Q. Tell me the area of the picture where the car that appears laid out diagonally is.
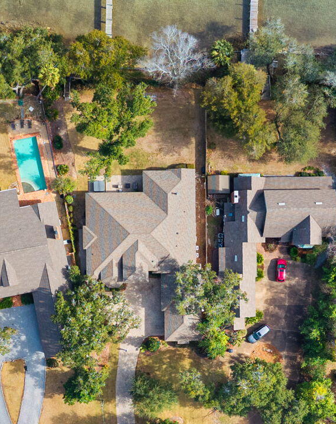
bottom right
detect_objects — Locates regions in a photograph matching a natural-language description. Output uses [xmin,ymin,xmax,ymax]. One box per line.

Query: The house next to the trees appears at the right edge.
[218,173,336,330]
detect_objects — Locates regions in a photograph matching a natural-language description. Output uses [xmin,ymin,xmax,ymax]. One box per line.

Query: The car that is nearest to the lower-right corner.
[247,324,271,344]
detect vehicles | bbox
[247,324,271,344]
[275,259,286,283]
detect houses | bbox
[0,188,76,356]
[218,173,336,330]
[83,169,205,344]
